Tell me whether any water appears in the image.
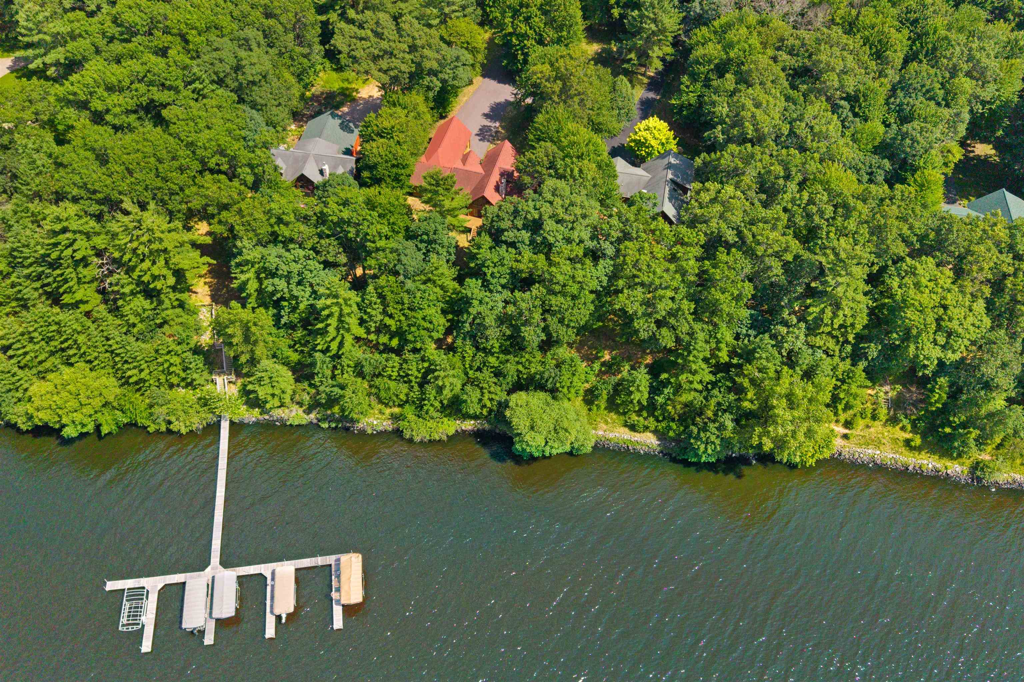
Yes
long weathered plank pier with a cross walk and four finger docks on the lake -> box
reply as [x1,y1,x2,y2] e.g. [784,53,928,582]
[103,420,354,653]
